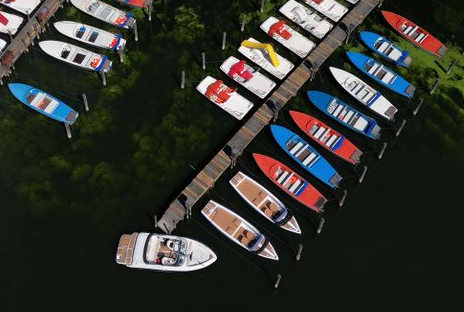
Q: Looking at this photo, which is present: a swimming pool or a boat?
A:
boat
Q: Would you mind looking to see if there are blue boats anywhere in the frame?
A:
Yes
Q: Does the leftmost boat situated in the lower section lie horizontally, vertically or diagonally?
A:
horizontally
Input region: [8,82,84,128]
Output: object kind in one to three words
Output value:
boat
